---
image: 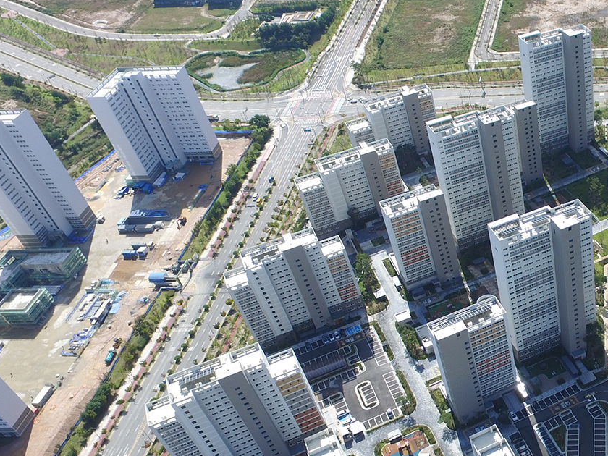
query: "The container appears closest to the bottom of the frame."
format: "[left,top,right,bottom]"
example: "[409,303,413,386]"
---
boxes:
[26,378,53,407]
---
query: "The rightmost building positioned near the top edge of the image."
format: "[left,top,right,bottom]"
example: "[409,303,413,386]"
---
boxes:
[521,19,594,157]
